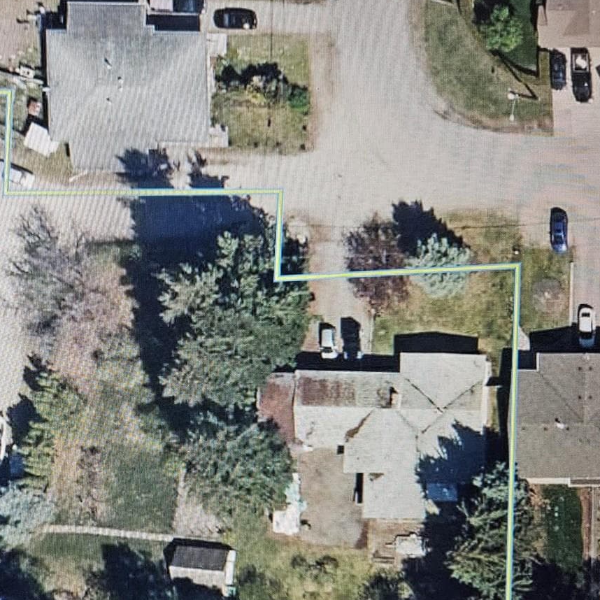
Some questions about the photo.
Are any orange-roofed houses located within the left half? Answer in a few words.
No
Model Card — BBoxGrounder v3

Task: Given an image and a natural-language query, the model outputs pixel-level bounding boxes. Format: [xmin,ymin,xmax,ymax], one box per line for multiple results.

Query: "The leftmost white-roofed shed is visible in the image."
[23,121,50,156]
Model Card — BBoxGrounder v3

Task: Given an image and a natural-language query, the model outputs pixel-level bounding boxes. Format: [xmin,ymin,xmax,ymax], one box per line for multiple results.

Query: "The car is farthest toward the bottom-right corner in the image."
[577,305,596,346]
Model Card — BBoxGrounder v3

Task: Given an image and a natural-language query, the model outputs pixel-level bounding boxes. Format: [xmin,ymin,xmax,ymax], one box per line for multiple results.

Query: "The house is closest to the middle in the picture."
[263,353,487,519]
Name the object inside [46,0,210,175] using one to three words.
house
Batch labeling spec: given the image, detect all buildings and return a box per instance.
[168,539,236,591]
[46,0,210,175]
[263,353,487,519]
[537,0,600,48]
[516,352,600,487]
